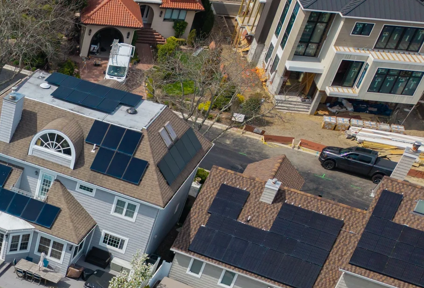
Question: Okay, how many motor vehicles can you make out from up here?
2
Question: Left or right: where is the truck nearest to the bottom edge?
right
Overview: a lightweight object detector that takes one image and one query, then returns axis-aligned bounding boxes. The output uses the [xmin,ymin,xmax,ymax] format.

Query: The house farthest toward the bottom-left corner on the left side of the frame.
[0,67,212,272]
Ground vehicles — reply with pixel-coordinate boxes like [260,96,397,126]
[108,31,136,73]
[320,146,392,183]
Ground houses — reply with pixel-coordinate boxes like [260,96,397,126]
[234,0,424,114]
[166,131,424,288]
[0,67,212,272]
[78,0,204,53]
